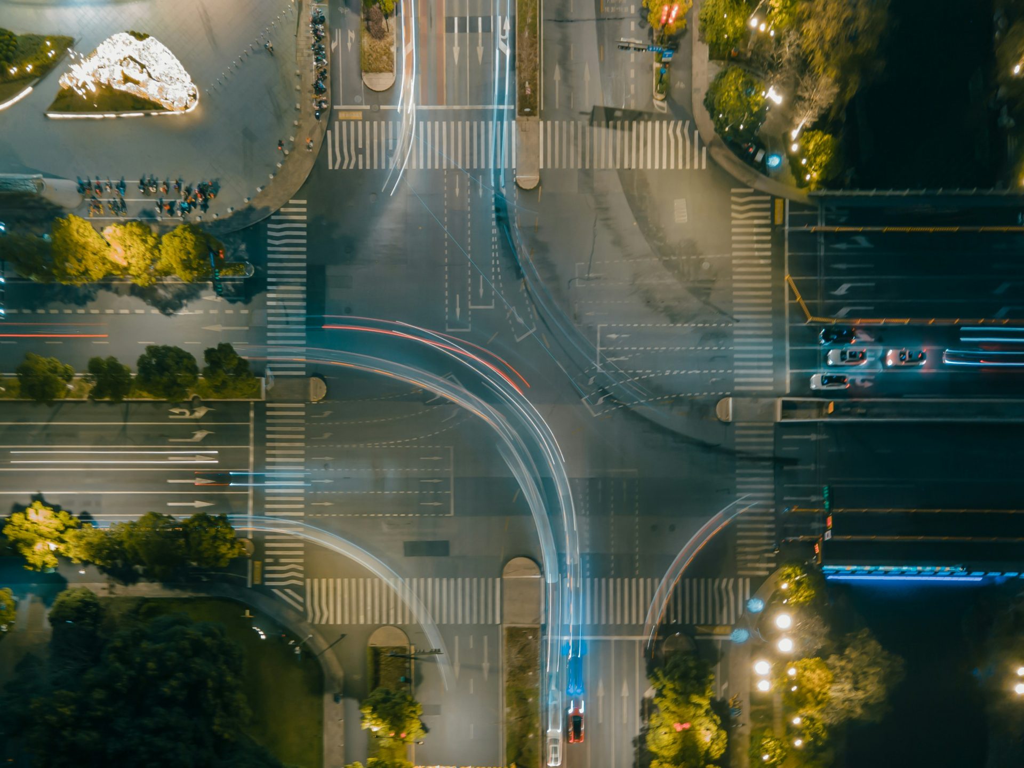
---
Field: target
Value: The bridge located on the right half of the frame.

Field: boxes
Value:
[819,207,1024,575]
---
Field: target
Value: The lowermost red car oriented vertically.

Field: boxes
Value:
[567,706,585,744]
